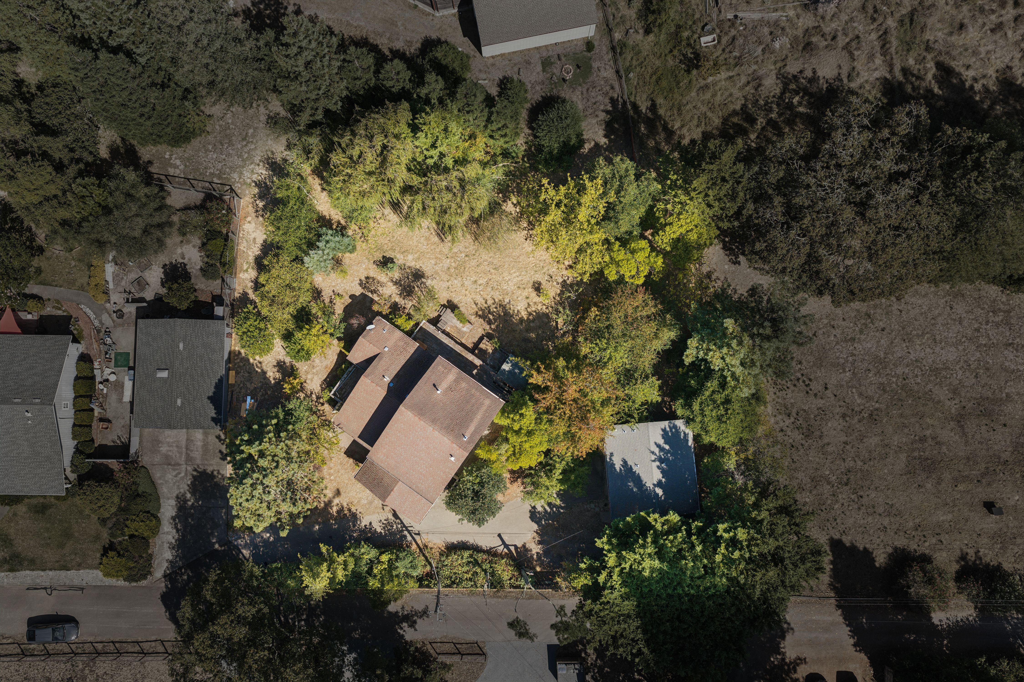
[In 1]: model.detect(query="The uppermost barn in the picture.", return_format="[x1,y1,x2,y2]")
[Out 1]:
[472,0,599,54]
